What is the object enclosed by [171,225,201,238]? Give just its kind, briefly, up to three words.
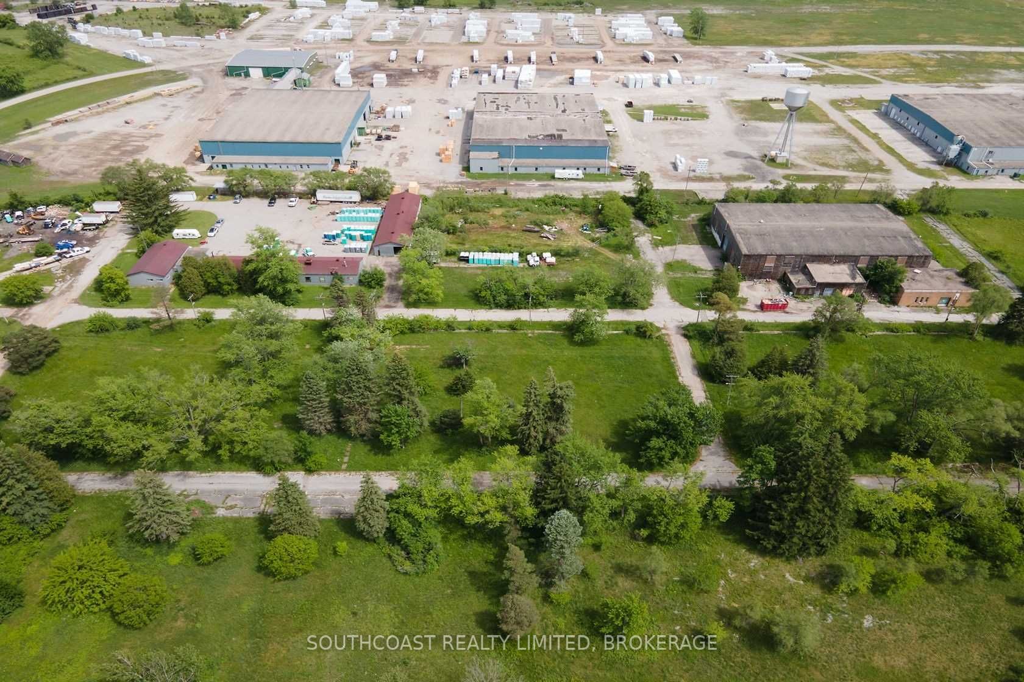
vehicle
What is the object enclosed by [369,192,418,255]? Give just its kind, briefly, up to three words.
building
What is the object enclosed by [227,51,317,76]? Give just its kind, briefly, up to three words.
barn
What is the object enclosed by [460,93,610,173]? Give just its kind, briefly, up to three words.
building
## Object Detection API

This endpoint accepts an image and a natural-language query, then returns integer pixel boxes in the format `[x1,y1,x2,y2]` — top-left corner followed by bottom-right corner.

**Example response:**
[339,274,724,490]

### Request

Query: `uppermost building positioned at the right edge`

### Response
[884,94,1024,176]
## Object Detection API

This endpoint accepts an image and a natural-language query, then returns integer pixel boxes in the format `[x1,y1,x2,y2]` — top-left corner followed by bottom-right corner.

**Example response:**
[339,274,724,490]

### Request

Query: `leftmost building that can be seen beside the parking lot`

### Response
[123,240,195,286]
